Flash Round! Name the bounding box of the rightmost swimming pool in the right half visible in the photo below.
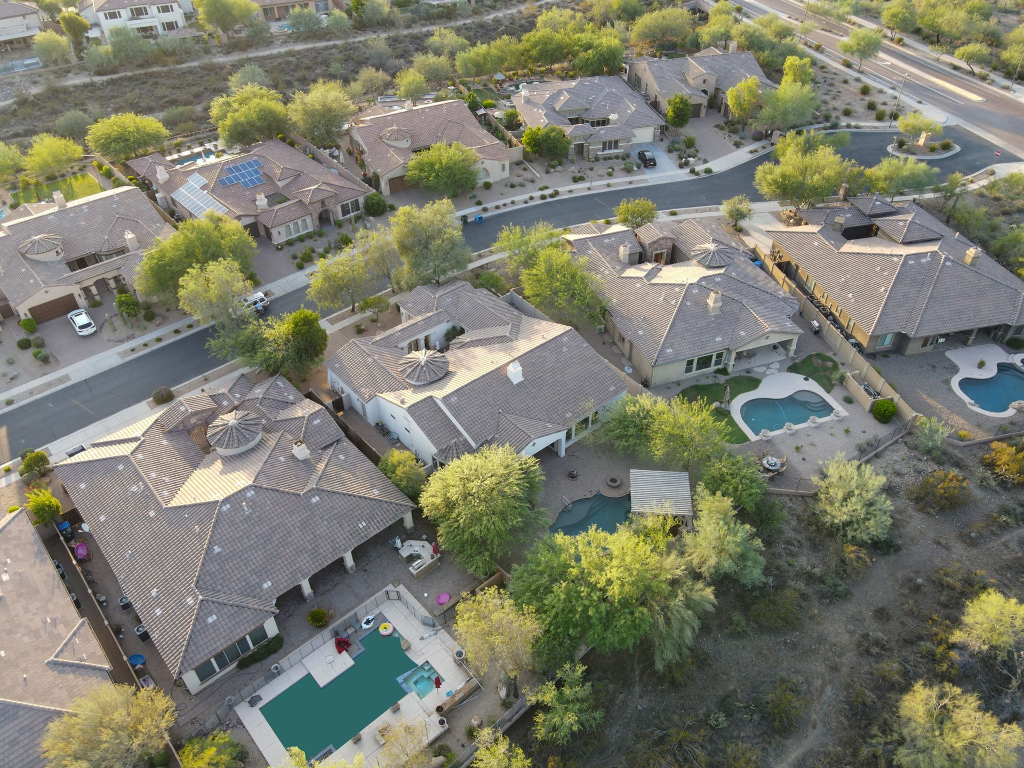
[944,344,1024,419]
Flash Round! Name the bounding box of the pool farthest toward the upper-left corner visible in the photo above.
[0,56,42,76]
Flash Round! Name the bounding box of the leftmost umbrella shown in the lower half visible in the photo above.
[328,635,355,657]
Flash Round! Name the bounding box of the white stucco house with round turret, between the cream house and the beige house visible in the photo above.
[323,279,629,473]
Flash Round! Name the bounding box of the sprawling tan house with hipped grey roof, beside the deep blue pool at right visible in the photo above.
[764,192,1024,355]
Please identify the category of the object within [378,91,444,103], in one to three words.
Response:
swimming pool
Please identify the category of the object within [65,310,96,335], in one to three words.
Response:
car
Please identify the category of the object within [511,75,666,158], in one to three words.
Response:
house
